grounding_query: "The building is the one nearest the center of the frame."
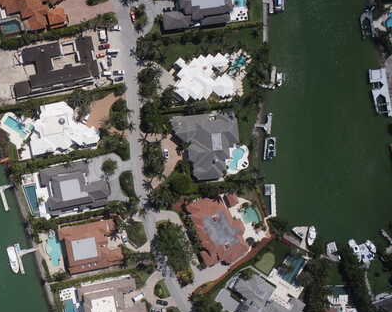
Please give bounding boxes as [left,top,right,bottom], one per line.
[170,113,240,181]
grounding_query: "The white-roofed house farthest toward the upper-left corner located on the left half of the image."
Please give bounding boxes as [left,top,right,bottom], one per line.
[26,101,98,158]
